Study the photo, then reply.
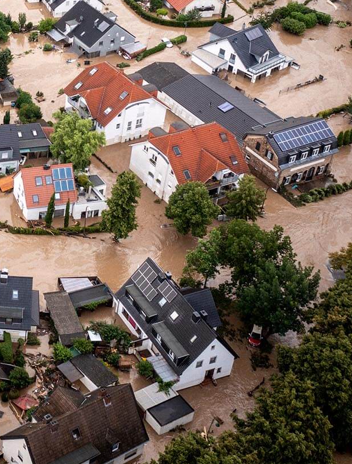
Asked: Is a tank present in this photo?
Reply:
No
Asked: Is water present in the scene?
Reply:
Yes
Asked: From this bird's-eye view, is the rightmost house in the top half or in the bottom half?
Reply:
top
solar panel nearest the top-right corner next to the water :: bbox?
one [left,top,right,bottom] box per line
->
[243,26,266,44]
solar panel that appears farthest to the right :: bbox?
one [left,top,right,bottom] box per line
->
[271,118,336,160]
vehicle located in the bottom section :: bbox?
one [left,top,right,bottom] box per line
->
[249,324,262,345]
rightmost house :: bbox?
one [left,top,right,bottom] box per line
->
[243,116,338,188]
